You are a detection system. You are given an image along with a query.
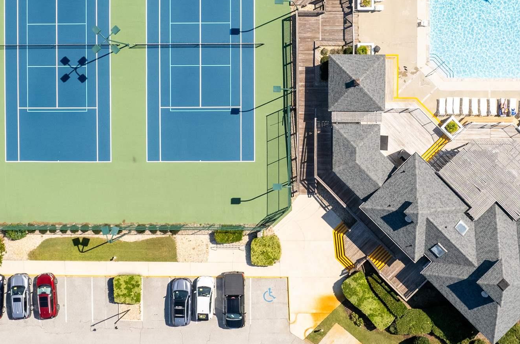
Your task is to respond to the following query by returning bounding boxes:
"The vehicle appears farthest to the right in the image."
[221,271,246,328]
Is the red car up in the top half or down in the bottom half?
bottom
